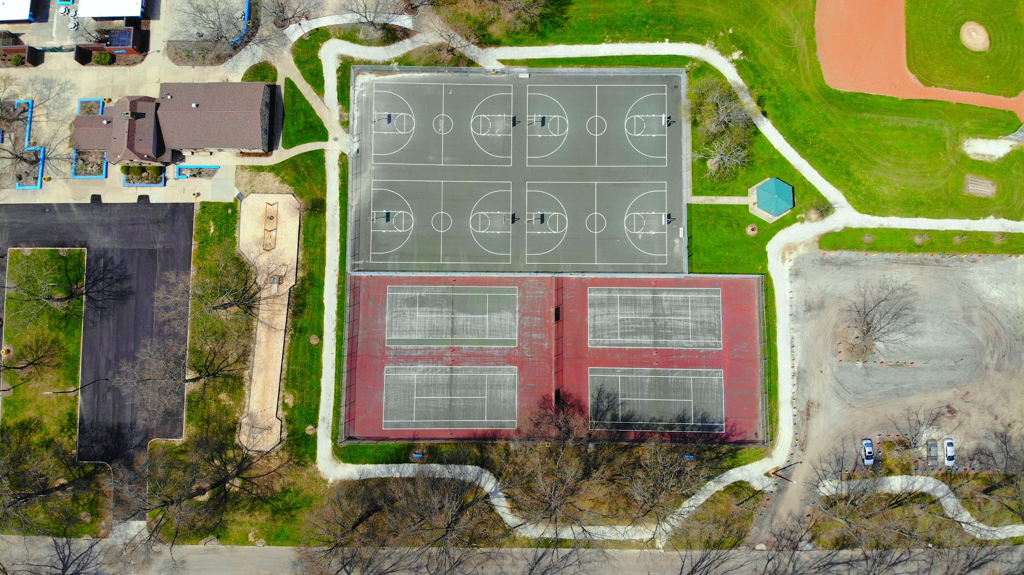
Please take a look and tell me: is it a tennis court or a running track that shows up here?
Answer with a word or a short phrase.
tennis court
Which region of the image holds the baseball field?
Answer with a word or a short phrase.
top right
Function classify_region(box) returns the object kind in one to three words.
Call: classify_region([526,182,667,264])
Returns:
basketball court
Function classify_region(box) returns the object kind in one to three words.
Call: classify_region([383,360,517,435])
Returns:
tennis court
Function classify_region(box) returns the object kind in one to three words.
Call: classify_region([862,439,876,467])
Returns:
car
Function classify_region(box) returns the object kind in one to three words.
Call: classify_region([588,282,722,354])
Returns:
tennis court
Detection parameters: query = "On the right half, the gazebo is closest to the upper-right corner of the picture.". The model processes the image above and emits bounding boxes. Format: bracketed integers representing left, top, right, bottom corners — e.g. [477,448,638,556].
[754,177,794,218]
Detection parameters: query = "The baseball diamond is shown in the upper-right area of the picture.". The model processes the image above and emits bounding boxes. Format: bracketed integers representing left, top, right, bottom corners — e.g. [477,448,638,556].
[815,0,1024,124]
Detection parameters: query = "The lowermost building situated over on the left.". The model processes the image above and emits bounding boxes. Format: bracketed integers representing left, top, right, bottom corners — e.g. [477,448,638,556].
[72,83,269,165]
